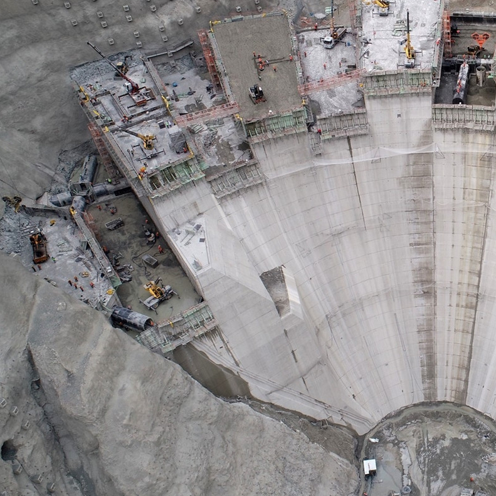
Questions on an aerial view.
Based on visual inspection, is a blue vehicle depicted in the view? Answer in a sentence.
No, the scene contains no blue vehicle.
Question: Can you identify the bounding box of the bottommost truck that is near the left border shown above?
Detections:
[22,223,48,257]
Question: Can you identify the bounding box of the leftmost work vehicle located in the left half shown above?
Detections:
[7,192,24,214]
